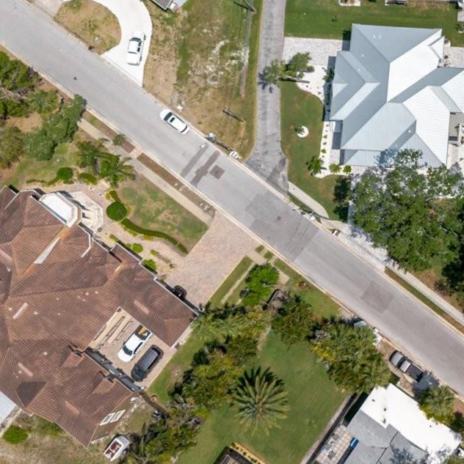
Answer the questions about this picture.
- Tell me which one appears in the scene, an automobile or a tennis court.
automobile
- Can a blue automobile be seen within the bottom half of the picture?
No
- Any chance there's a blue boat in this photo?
No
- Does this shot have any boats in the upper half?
No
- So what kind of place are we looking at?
residential area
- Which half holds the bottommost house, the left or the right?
right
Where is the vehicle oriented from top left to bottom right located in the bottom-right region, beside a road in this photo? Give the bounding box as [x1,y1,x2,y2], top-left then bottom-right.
[390,351,426,384]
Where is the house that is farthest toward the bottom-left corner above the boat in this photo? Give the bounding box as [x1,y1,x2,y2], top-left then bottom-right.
[0,187,207,448]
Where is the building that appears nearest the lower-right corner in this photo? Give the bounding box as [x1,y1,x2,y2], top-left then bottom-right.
[335,383,462,464]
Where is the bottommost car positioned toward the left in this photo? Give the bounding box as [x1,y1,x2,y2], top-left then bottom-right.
[132,345,165,382]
